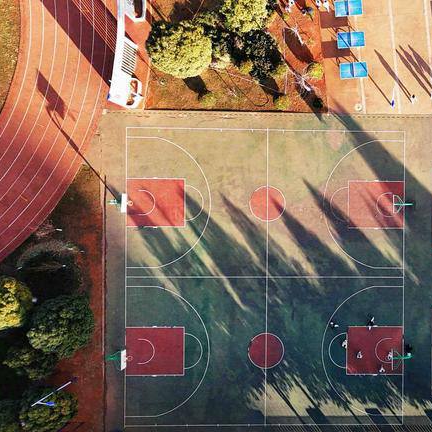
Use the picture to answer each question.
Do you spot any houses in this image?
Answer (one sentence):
No, the frame has no house in it.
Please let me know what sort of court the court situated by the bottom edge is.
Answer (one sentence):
Specifically, the court situated by the bottom edge is a basketball court.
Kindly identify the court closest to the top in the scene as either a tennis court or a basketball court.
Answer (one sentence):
Looking closely, the court closest to the top is a basketball court.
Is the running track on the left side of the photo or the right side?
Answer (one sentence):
It is on the left.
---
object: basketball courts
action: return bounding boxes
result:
[125,127,404,277]
[123,277,403,426]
